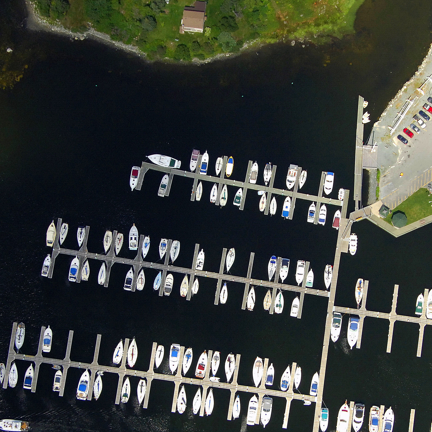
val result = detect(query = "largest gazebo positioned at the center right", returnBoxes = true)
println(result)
[391,212,406,228]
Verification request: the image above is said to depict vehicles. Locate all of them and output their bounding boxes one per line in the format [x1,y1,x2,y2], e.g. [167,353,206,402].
[424,104,432,115]
[414,115,425,128]
[398,135,407,144]
[419,110,430,121]
[403,128,413,138]
[411,124,420,134]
